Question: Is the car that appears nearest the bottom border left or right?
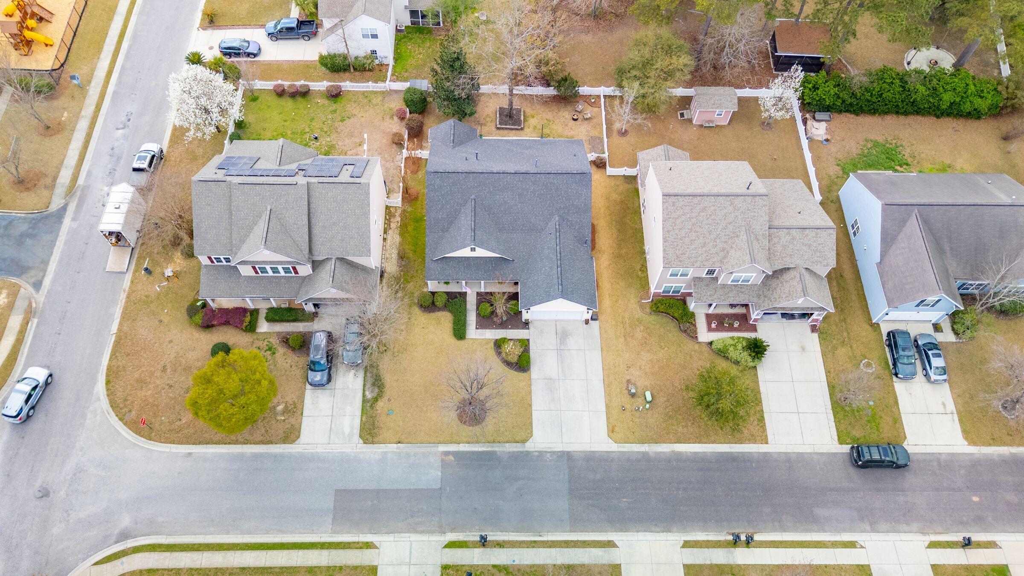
right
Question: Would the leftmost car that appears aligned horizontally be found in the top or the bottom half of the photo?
top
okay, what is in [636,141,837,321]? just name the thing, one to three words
house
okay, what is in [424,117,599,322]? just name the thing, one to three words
house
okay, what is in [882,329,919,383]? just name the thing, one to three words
car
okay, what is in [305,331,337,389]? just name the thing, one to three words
car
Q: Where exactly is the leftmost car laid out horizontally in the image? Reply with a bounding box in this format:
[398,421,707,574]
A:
[219,36,264,57]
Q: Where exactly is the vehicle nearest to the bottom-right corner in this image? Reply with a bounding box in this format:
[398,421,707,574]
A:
[846,442,911,472]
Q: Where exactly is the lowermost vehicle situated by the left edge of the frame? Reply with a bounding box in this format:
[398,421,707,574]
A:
[1,369,51,426]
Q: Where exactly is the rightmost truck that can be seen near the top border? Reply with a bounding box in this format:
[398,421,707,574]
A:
[265,16,321,40]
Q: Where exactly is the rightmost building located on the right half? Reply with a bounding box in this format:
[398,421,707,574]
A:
[835,172,1024,323]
